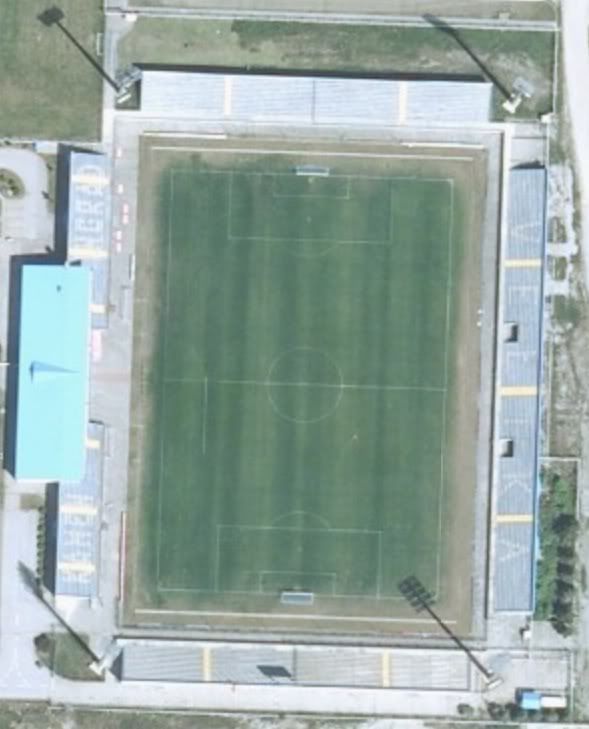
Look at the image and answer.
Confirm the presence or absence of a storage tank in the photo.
No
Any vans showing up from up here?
No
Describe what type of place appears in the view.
sports ground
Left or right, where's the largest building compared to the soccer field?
to its left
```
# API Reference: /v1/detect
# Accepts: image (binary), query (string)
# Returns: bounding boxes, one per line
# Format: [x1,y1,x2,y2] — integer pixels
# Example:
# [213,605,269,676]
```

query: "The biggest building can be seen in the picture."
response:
[15,264,90,481]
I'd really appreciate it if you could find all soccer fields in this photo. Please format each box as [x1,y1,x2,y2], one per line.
[124,136,486,637]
